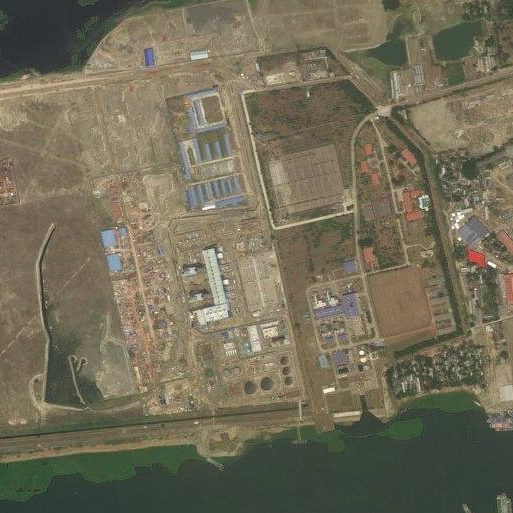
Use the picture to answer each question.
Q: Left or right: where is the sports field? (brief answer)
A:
right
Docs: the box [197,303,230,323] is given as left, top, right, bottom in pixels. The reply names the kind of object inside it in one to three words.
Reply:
building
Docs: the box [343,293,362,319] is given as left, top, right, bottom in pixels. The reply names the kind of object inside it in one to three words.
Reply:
building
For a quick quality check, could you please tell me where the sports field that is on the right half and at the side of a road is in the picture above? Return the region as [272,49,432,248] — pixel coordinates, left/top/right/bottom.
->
[369,267,433,340]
